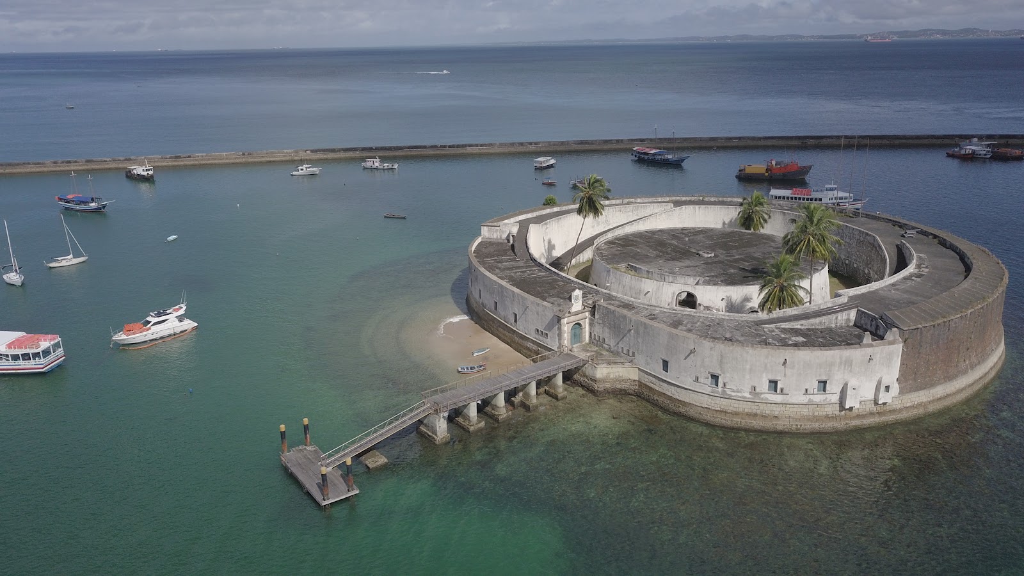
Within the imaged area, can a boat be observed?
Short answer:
Yes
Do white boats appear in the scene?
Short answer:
Yes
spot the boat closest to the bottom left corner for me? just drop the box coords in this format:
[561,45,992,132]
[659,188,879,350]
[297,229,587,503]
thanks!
[0,331,63,373]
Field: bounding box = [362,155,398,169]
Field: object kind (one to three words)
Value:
boat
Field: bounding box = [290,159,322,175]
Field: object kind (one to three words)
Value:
boat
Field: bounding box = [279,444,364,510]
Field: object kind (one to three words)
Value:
pier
